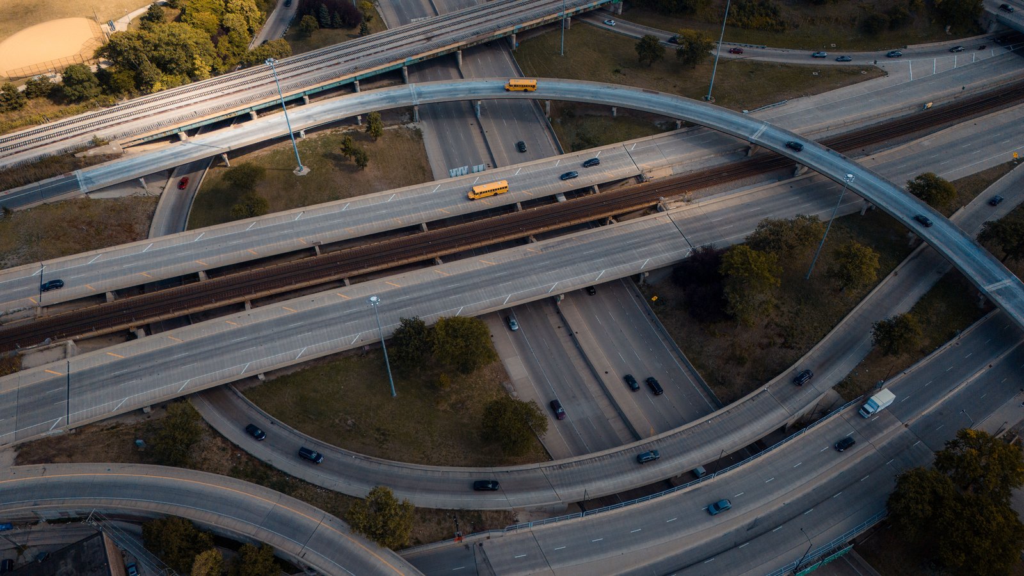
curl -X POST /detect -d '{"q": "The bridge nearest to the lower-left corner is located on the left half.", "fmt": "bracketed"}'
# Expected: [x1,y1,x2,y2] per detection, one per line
[0,467,426,576]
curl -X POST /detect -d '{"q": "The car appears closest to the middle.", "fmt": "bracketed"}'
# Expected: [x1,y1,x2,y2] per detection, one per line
[505,314,518,331]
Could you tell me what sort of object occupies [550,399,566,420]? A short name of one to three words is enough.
car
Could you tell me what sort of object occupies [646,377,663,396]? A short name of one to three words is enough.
car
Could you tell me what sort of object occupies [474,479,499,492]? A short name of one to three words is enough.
vehicle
